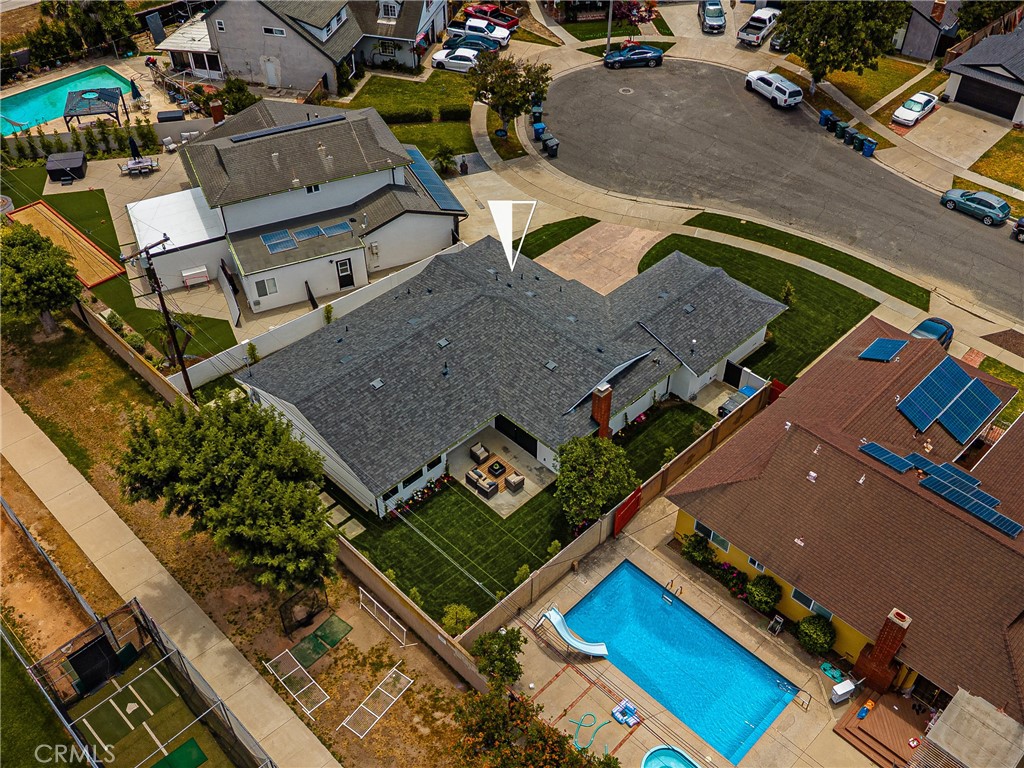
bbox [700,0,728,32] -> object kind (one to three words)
car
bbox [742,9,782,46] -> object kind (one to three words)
truck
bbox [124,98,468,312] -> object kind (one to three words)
house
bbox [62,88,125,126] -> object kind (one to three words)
gazebo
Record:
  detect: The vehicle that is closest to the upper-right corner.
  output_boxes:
[897,91,940,121]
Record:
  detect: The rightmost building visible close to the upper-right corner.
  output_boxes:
[940,21,1024,123]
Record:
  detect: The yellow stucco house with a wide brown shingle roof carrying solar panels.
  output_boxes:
[660,317,1024,757]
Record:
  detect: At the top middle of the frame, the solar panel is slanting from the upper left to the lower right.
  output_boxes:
[404,147,464,211]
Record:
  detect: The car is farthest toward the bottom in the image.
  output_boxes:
[913,318,968,353]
